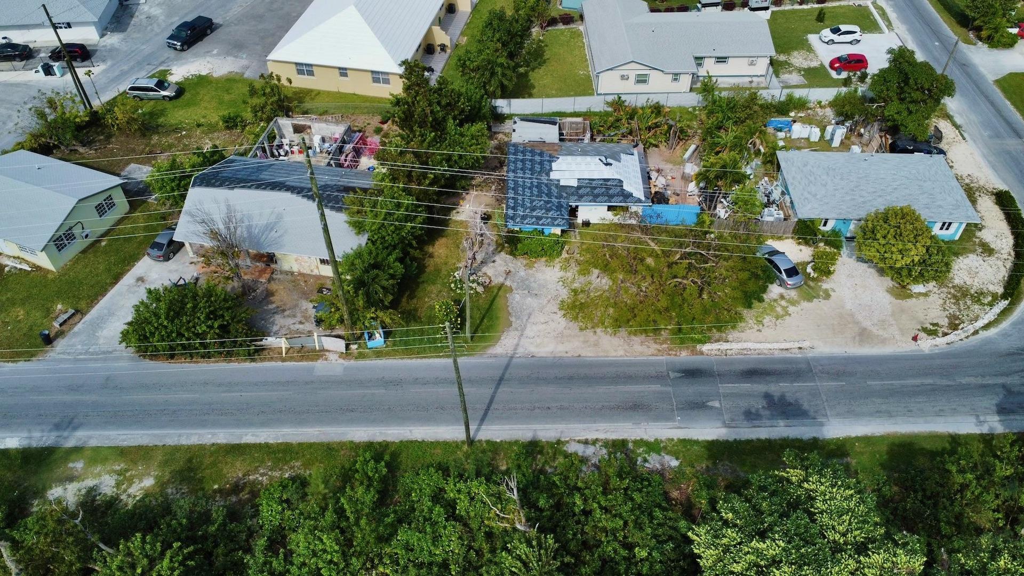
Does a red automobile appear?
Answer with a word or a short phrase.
Yes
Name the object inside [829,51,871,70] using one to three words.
car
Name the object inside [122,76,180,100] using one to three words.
vehicle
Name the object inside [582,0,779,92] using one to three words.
house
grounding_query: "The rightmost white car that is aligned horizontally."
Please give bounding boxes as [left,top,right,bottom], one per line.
[820,24,865,45]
